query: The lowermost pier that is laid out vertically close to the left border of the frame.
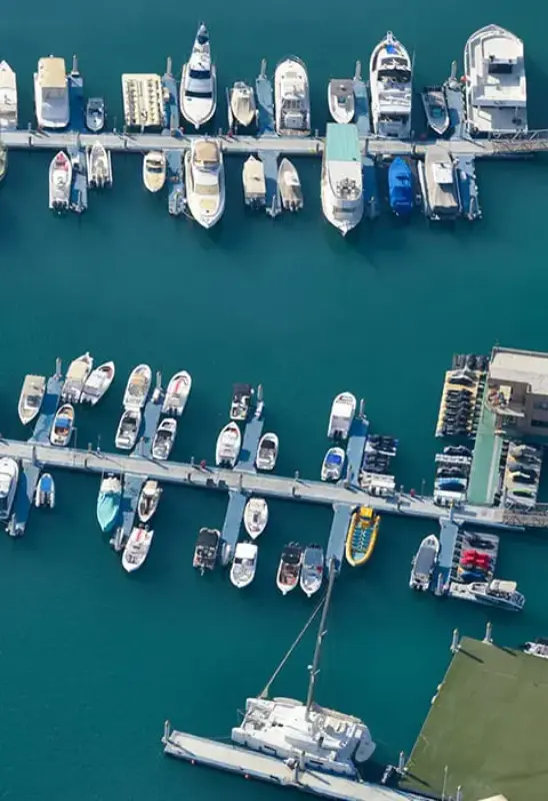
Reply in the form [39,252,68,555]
[5,465,45,535]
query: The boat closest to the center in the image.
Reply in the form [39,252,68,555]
[230,382,254,423]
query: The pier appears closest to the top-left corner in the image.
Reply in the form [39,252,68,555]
[61,74,91,133]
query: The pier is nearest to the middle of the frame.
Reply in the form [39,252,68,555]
[235,411,265,472]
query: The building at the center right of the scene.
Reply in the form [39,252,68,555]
[484,343,548,441]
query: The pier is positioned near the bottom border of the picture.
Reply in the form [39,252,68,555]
[163,733,420,801]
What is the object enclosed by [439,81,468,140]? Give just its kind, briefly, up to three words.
pier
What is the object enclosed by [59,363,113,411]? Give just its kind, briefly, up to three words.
boat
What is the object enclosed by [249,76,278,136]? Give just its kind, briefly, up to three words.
pier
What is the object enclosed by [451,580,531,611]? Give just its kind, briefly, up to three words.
boat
